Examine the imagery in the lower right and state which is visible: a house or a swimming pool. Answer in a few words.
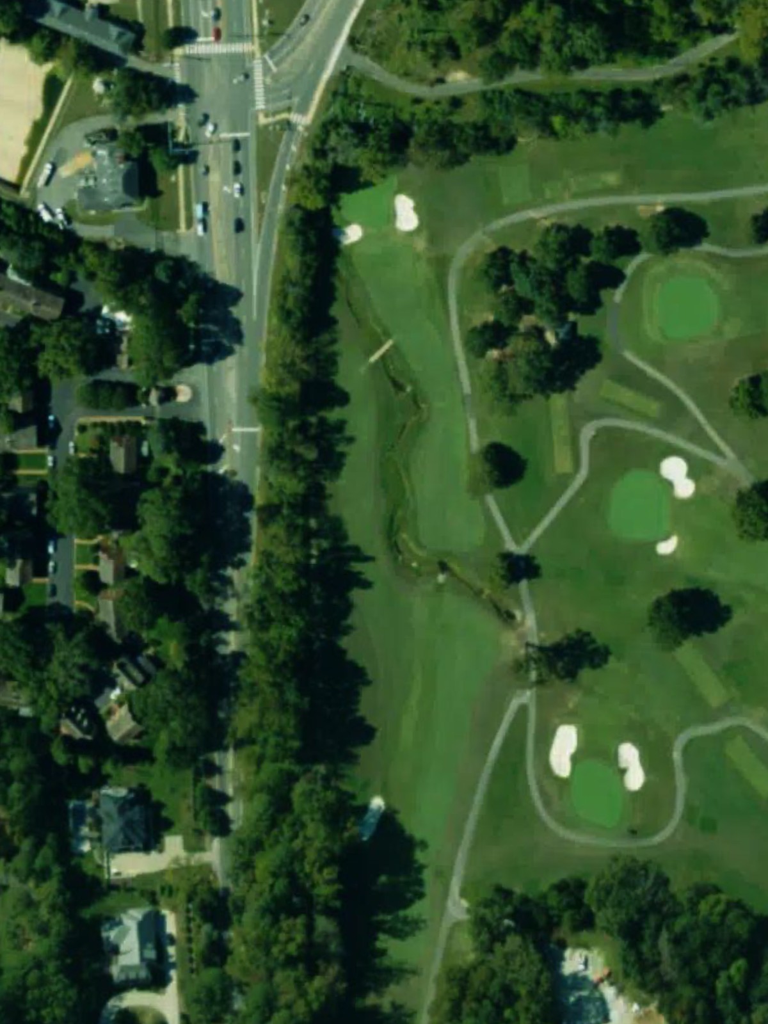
swimming pool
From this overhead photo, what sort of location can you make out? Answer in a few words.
golf course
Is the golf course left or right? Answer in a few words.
right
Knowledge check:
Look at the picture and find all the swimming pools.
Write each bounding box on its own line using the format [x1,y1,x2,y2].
[69,801,91,853]
[558,985,616,1024]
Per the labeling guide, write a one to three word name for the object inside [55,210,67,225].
vehicle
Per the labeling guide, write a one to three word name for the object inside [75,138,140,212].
building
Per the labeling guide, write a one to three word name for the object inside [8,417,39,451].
house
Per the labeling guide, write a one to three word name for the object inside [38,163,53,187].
vehicle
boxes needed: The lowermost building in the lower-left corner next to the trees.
[100,898,156,985]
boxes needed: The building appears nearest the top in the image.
[30,0,139,60]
